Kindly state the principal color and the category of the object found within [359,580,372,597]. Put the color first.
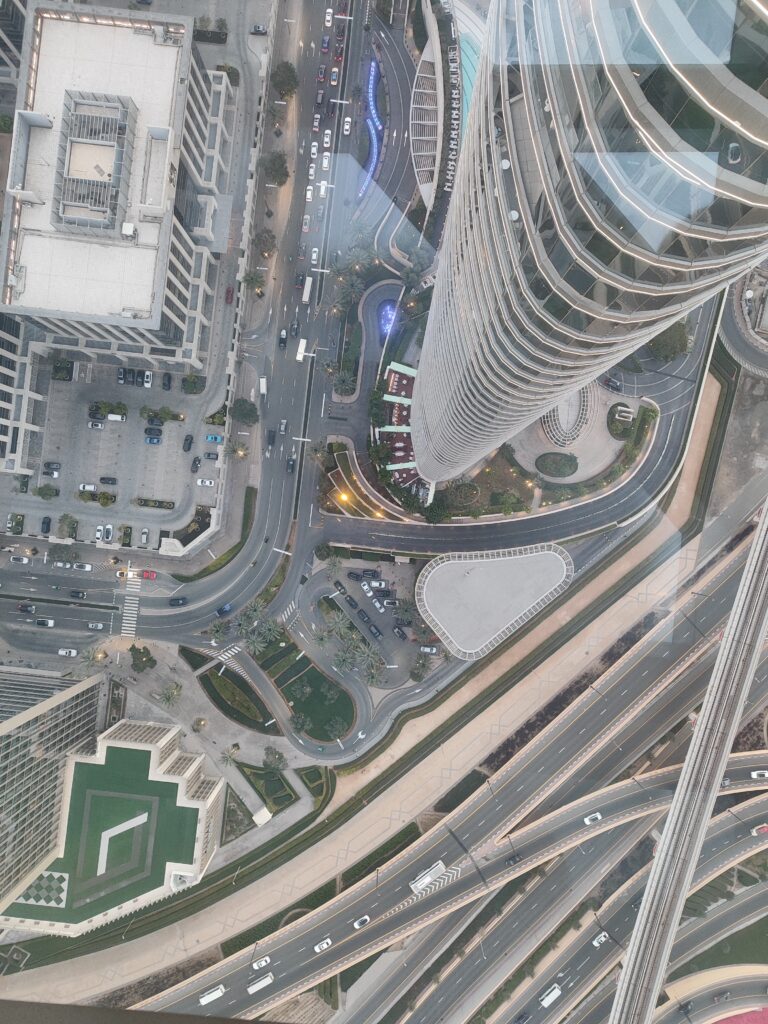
white vehicle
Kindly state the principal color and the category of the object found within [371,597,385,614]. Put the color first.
white car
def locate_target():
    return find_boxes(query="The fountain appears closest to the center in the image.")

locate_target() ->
[380,297,397,344]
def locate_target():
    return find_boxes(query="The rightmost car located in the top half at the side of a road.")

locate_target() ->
[604,379,622,391]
